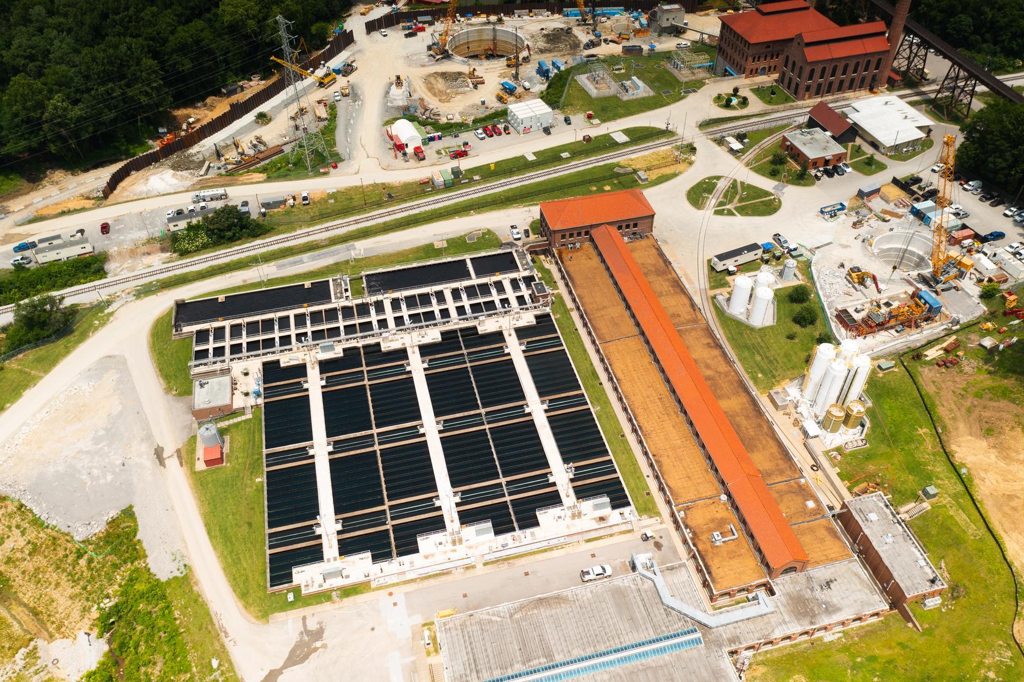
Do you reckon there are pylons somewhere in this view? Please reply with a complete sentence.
Yes, I can see a pylon in this picture.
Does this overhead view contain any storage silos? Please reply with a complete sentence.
Yes, the picture does show a storage silo.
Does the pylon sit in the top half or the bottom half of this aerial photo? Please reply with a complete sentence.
You can find the pylon in the top half.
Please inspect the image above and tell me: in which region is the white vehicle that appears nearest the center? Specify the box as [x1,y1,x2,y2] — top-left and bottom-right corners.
[509,225,521,239]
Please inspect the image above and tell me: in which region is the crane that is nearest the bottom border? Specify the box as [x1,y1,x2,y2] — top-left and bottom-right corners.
[893,133,978,294]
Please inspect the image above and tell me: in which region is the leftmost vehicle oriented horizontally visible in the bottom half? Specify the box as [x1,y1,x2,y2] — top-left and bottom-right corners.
[580,565,613,581]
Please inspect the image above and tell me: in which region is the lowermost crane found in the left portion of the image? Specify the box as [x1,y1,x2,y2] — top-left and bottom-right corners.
[270,57,345,86]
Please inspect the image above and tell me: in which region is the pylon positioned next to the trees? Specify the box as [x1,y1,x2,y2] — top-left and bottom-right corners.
[264,16,329,174]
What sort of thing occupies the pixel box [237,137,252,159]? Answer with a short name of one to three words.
work vehicle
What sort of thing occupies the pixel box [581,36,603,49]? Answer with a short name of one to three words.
vehicle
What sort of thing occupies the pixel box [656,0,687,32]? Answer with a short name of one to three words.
house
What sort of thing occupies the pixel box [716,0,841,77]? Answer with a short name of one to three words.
building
